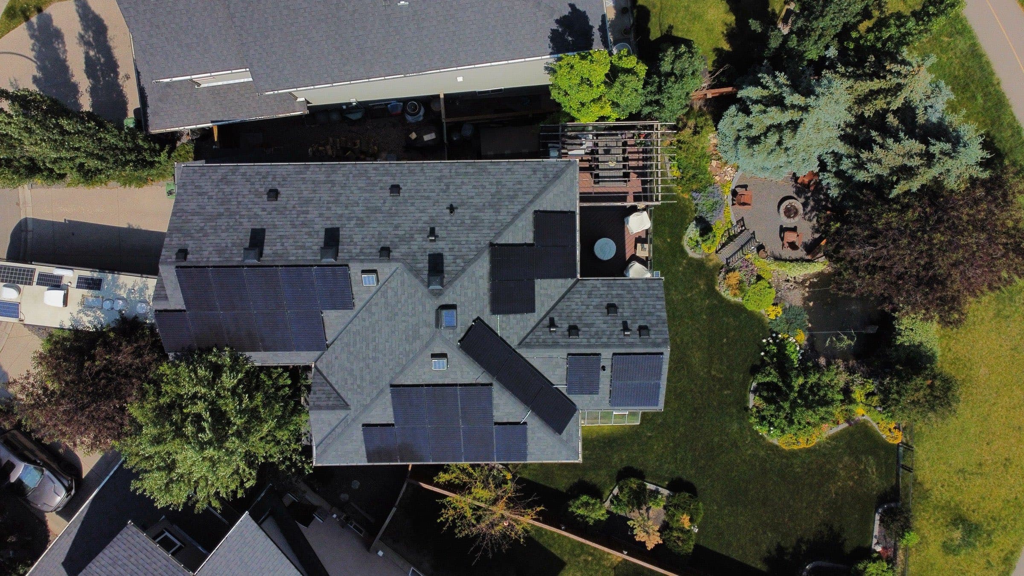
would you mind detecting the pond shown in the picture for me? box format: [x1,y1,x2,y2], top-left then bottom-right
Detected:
[805,273,897,359]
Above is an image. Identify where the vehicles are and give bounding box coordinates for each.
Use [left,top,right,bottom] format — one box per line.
[0,256,160,339]
[0,416,86,519]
